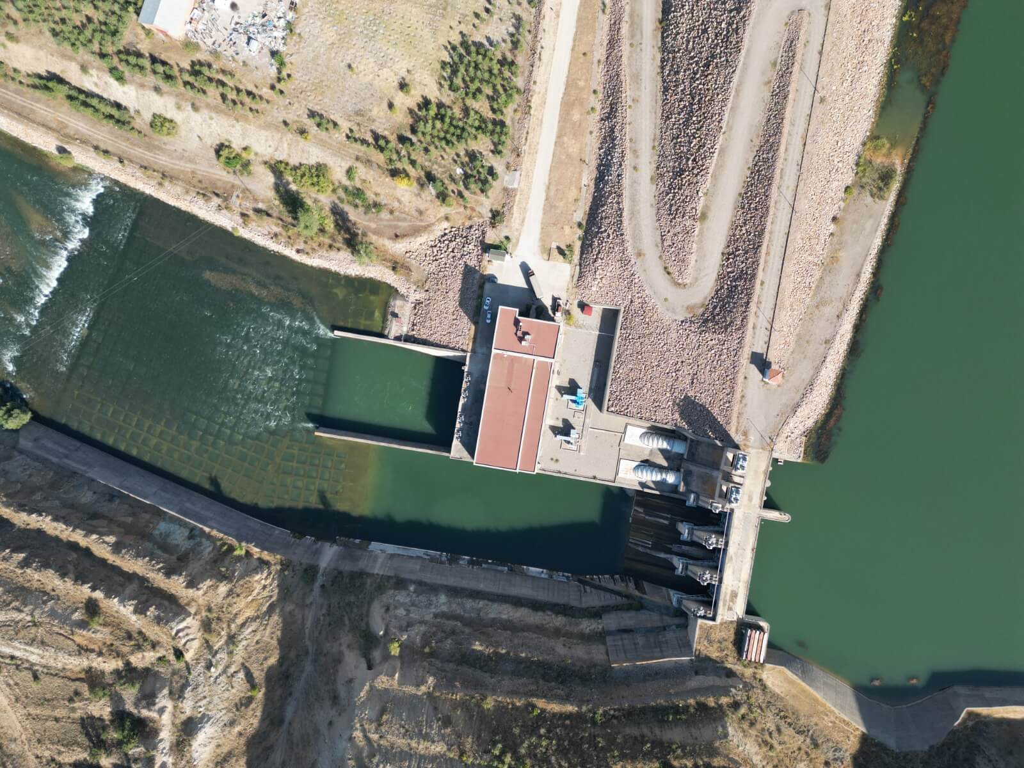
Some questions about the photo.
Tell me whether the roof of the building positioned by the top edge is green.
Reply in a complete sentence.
No, the color of the roof of the building positioned by the top edge is white.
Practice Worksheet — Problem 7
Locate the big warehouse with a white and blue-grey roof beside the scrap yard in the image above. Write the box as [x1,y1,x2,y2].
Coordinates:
[138,0,194,42]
